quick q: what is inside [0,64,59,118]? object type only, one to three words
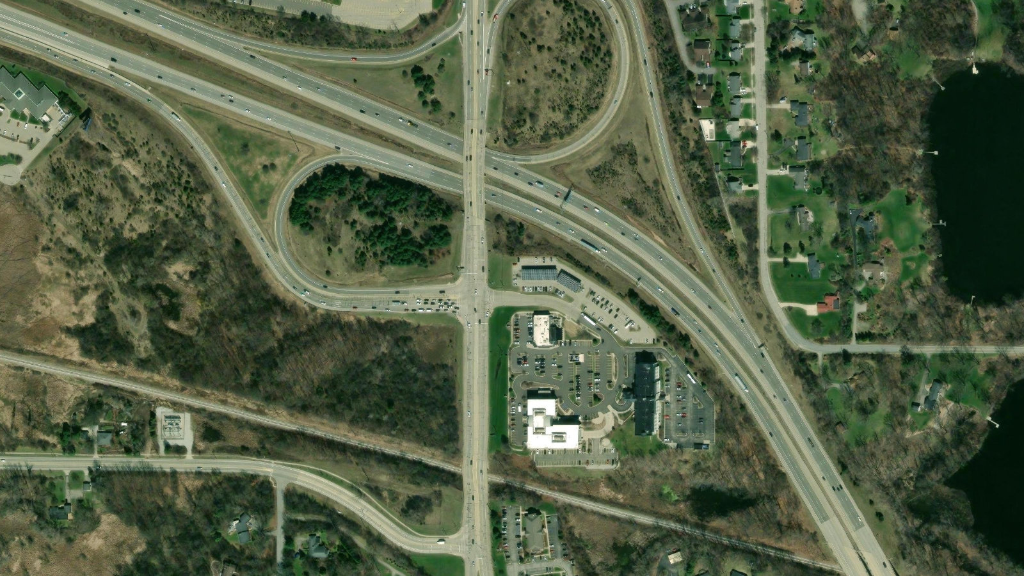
building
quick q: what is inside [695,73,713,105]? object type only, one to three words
house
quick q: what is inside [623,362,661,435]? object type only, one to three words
building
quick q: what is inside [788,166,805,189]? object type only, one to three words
house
